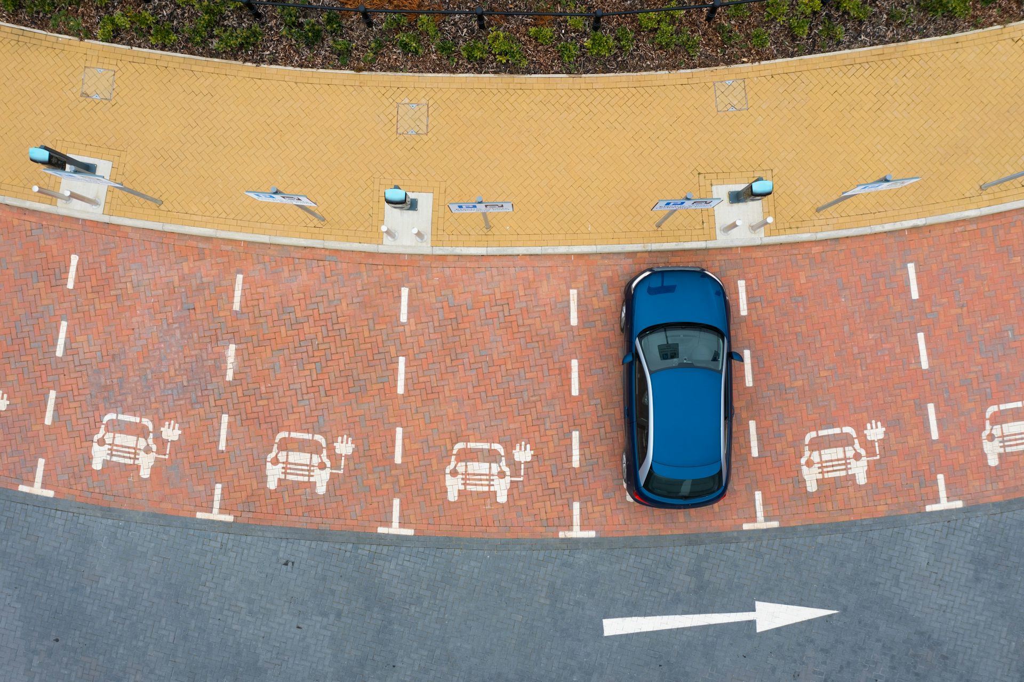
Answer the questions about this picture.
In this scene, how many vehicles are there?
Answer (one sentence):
My tally gives 1 vehicle in this photo.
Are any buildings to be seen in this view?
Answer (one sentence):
No, I find no building anywhere in the image.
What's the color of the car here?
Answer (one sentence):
From above, the car appears blue.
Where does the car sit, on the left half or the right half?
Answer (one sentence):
You can find the car on the right side of the picture.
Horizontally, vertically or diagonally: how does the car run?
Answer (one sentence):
What the image shows is the car lying vertically.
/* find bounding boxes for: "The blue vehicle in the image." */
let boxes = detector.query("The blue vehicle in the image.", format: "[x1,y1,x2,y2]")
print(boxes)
[619,266,743,510]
